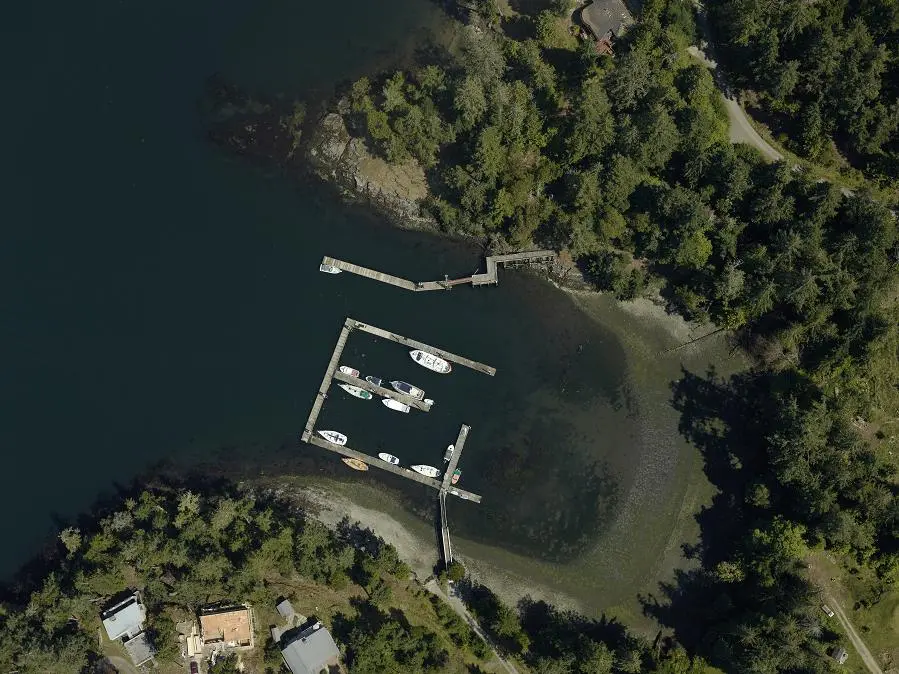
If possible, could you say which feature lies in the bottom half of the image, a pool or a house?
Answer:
house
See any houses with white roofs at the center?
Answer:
No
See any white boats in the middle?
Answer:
Yes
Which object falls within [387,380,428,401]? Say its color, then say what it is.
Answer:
white boat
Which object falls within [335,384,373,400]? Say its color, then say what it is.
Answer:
white boat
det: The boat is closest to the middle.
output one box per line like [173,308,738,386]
[409,350,454,375]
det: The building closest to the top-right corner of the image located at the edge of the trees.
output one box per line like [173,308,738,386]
[582,0,634,55]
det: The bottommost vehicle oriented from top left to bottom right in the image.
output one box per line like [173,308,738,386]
[821,603,836,619]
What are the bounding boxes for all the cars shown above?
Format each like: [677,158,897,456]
[821,603,836,619]
[191,660,198,674]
